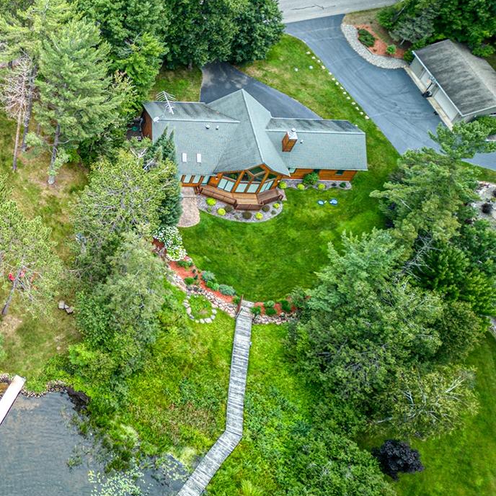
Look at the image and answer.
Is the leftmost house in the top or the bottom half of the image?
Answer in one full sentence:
The top half of the photo is where the leftmost house is.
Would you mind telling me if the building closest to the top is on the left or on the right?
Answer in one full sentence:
You can find the building closest to the top on the right side of the picture.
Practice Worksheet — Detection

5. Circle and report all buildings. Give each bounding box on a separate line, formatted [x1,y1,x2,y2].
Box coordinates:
[142,84,369,215]
[416,38,496,123]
